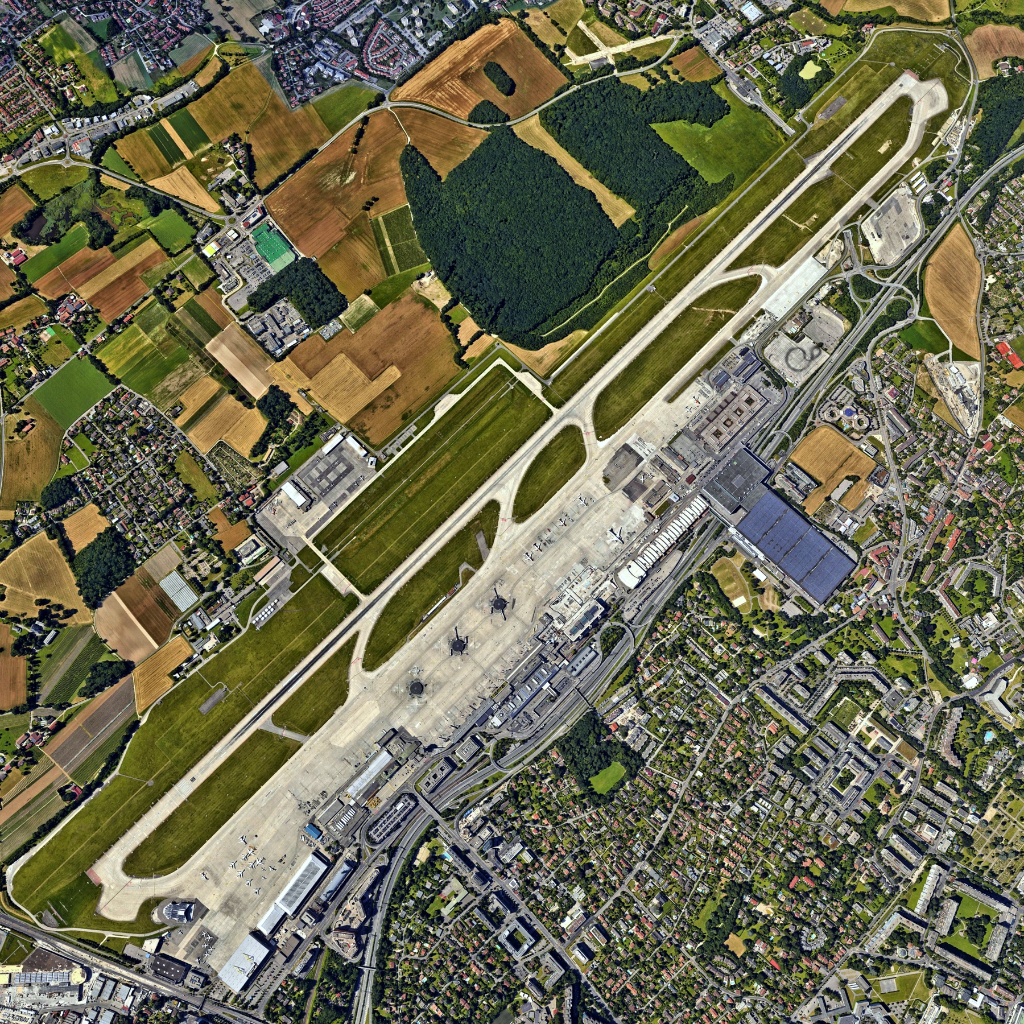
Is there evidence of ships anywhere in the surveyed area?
No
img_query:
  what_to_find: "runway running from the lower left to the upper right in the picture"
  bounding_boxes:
[86,67,920,886]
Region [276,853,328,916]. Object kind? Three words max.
hangar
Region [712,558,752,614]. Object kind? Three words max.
sports field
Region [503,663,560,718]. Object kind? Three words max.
building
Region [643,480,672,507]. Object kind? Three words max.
hangar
